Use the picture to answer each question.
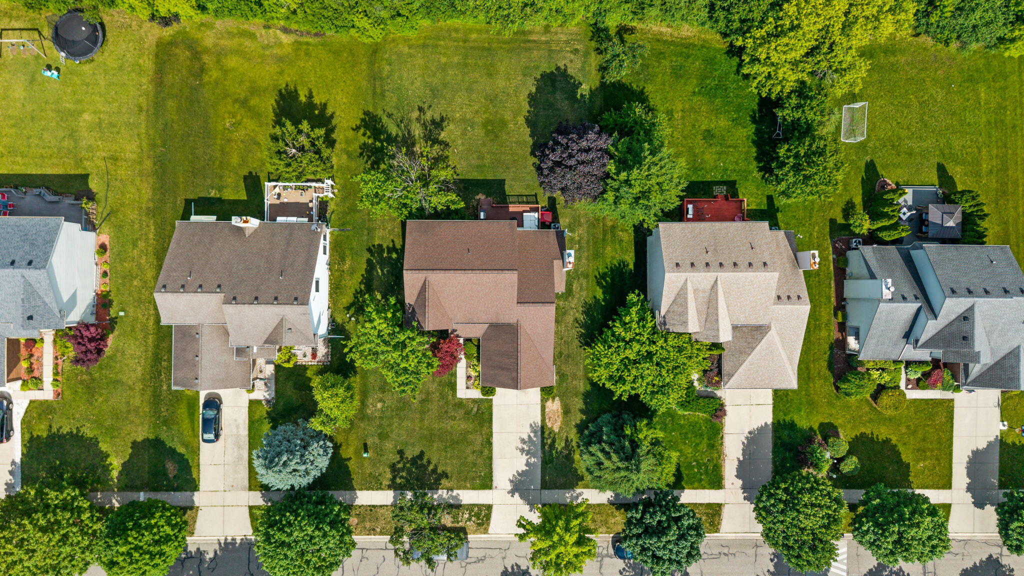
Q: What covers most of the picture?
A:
grass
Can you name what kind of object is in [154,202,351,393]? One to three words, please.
house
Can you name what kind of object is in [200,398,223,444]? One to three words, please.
car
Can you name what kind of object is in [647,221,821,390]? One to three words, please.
house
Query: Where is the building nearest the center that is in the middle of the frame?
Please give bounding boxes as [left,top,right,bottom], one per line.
[402,219,574,394]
